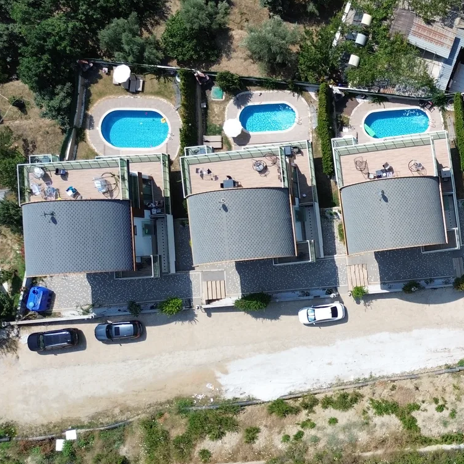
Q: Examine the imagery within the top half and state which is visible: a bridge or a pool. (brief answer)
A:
pool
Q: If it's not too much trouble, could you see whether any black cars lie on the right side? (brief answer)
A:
No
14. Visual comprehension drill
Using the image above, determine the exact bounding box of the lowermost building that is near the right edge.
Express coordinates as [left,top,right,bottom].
[332,130,464,258]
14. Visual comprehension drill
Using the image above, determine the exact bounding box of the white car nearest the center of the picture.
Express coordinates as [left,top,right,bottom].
[299,302,347,327]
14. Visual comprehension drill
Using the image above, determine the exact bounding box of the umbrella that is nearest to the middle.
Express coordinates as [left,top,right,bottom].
[222,117,247,140]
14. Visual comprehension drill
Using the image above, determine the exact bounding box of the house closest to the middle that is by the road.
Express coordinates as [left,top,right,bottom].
[179,140,328,270]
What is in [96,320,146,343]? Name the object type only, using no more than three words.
car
